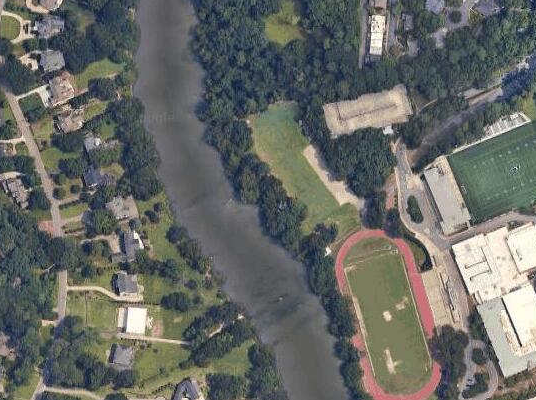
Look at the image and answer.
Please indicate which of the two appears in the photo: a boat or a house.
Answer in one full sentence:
It is a house that can be seen here.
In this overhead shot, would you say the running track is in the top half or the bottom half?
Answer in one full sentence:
The bottom half of the photo is where the running track is.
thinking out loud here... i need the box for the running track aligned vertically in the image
[337,228,442,400]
